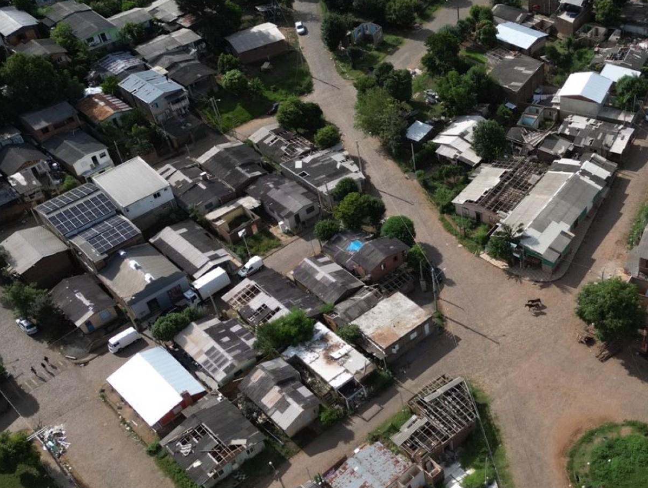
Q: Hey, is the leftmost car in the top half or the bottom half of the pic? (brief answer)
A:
bottom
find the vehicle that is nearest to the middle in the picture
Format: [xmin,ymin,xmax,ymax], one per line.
[237,252,264,276]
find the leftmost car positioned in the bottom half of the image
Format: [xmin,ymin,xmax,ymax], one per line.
[15,314,38,334]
